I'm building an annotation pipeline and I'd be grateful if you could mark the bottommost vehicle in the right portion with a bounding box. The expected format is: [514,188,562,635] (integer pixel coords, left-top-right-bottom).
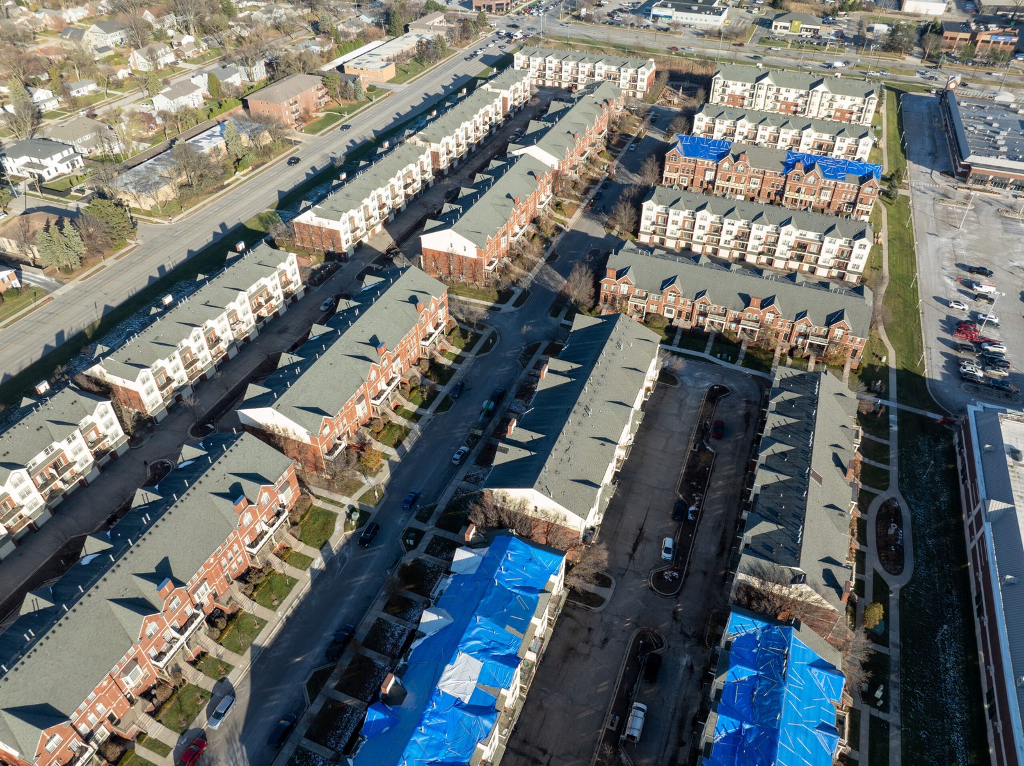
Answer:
[623,700,649,744]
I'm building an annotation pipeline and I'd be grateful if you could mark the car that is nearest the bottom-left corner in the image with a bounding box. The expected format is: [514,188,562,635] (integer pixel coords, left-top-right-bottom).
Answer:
[173,732,208,766]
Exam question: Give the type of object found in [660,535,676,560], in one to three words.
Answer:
car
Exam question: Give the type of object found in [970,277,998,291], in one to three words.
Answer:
vehicle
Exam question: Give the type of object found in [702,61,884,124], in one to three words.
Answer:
building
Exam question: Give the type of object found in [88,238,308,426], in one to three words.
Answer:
house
